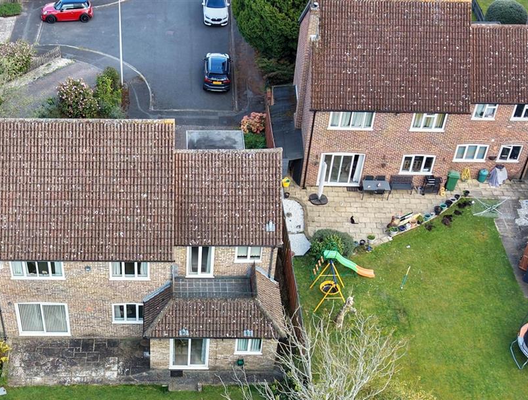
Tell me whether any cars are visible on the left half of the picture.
Yes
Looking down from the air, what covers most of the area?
buildings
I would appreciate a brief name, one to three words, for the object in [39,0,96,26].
car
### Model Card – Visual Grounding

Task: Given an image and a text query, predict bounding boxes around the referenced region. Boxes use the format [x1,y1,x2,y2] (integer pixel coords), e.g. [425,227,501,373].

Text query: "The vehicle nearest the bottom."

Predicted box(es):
[199,49,234,91]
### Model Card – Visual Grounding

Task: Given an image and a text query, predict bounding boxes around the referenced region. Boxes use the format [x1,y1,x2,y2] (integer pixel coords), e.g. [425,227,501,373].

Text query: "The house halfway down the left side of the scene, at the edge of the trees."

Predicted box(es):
[0,114,287,368]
